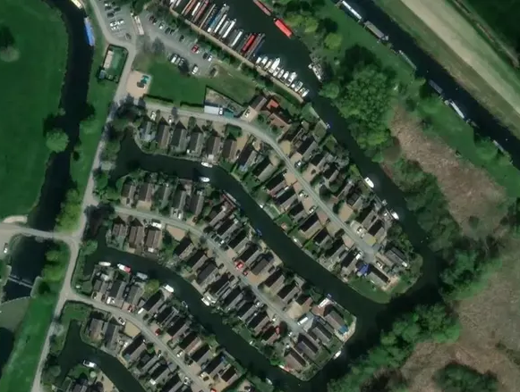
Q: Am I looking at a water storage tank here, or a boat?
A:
boat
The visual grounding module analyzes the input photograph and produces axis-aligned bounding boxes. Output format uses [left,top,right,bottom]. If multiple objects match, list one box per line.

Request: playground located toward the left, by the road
[125,69,150,97]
